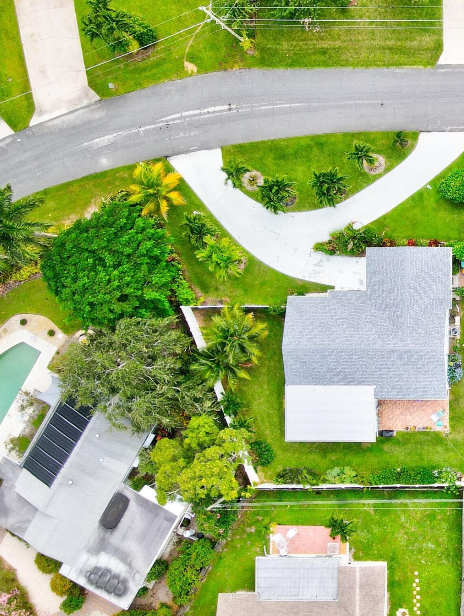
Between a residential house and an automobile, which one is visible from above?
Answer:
residential house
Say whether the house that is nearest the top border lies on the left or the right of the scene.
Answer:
right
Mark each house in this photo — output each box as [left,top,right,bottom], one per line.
[280,245,453,442]
[0,379,185,611]
[215,556,389,616]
